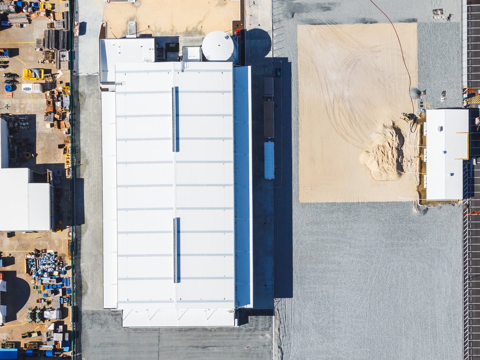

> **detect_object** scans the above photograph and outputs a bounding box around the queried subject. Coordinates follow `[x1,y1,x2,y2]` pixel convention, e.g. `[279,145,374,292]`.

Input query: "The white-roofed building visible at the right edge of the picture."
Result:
[422,109,469,202]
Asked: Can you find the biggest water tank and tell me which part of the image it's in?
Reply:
top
